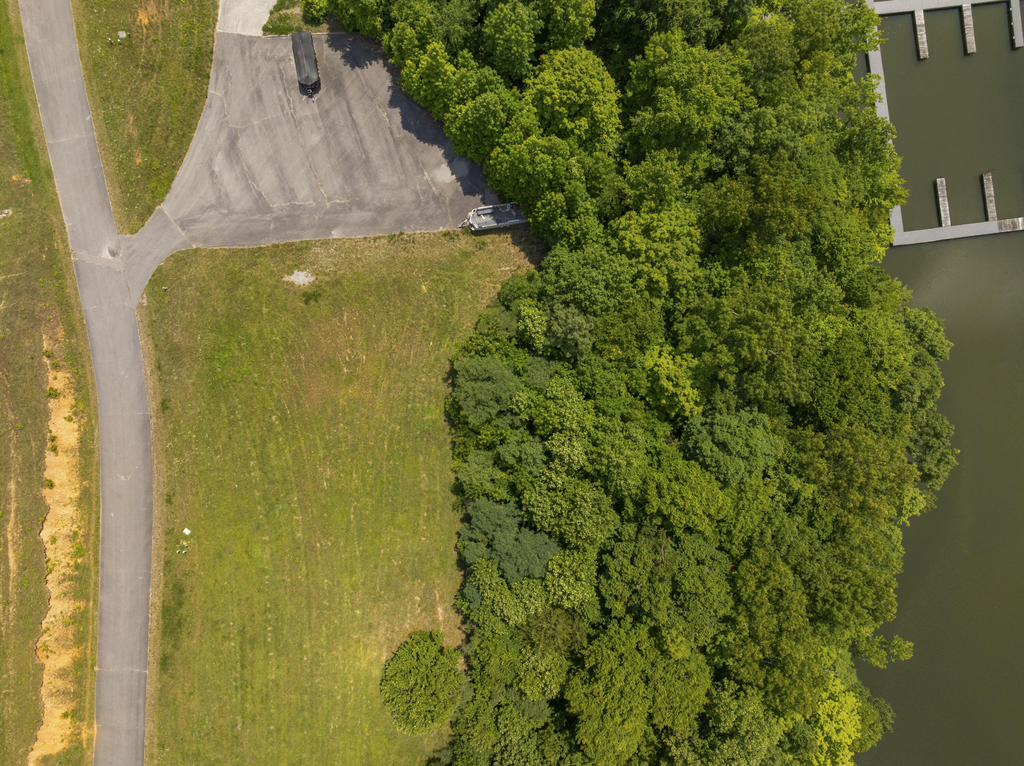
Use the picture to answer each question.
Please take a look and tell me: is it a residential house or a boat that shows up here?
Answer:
boat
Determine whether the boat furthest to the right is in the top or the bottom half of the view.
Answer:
top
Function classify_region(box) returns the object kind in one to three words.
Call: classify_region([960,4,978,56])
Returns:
pier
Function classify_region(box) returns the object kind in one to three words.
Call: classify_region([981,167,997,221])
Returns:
pier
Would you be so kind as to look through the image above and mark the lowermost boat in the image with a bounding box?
[469,200,527,231]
